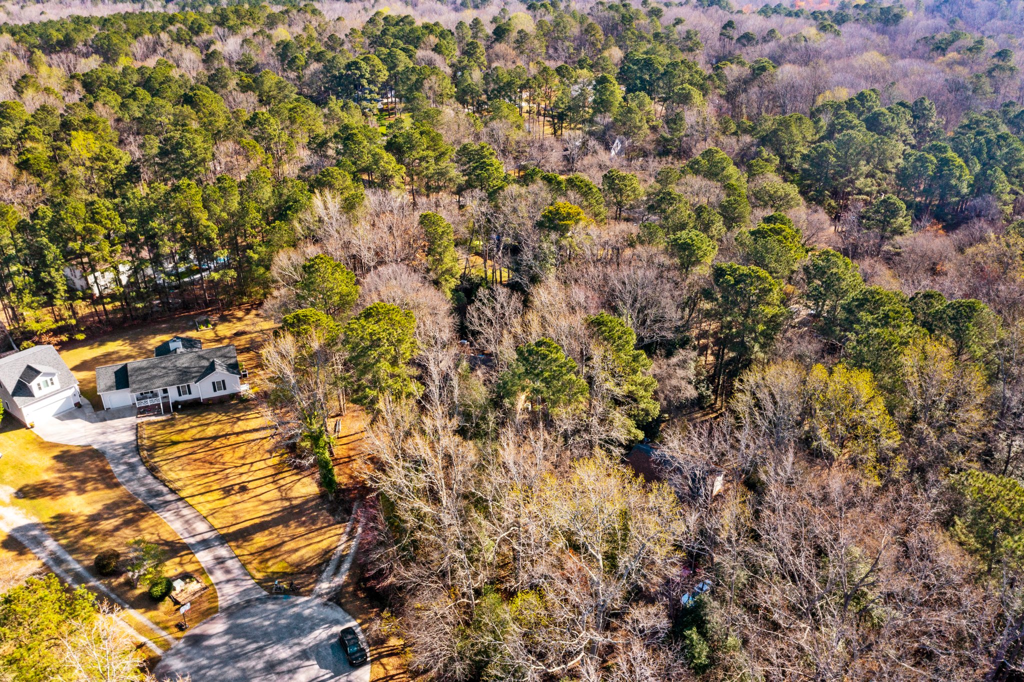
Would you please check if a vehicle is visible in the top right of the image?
No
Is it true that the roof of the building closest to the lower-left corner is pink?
No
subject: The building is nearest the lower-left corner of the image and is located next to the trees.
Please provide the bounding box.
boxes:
[0,340,82,426]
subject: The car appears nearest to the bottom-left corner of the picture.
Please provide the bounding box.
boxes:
[337,623,368,670]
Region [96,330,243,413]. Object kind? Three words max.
house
